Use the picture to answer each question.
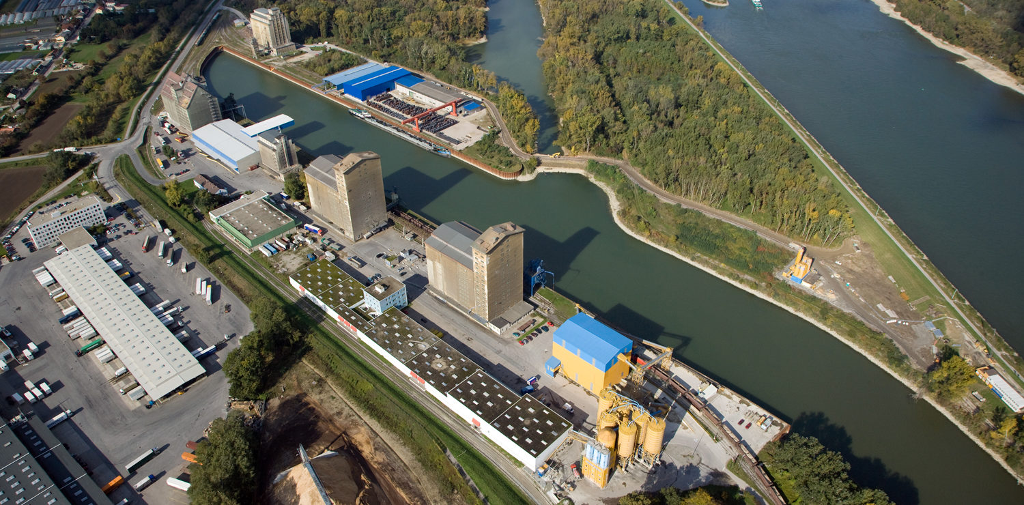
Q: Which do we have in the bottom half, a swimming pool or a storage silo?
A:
storage silo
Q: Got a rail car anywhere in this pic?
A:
Yes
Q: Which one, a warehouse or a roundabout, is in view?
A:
warehouse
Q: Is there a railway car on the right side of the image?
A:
Yes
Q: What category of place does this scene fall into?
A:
port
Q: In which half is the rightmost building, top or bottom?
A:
bottom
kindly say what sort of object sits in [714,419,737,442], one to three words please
rail car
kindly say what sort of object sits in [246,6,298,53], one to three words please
silo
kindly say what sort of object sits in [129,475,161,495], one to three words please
vehicle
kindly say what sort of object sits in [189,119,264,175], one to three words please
building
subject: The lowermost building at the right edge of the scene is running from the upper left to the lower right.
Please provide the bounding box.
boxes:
[976,362,1024,411]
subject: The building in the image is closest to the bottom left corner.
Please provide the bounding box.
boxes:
[0,417,112,505]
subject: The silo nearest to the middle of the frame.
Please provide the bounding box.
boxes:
[419,222,537,334]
